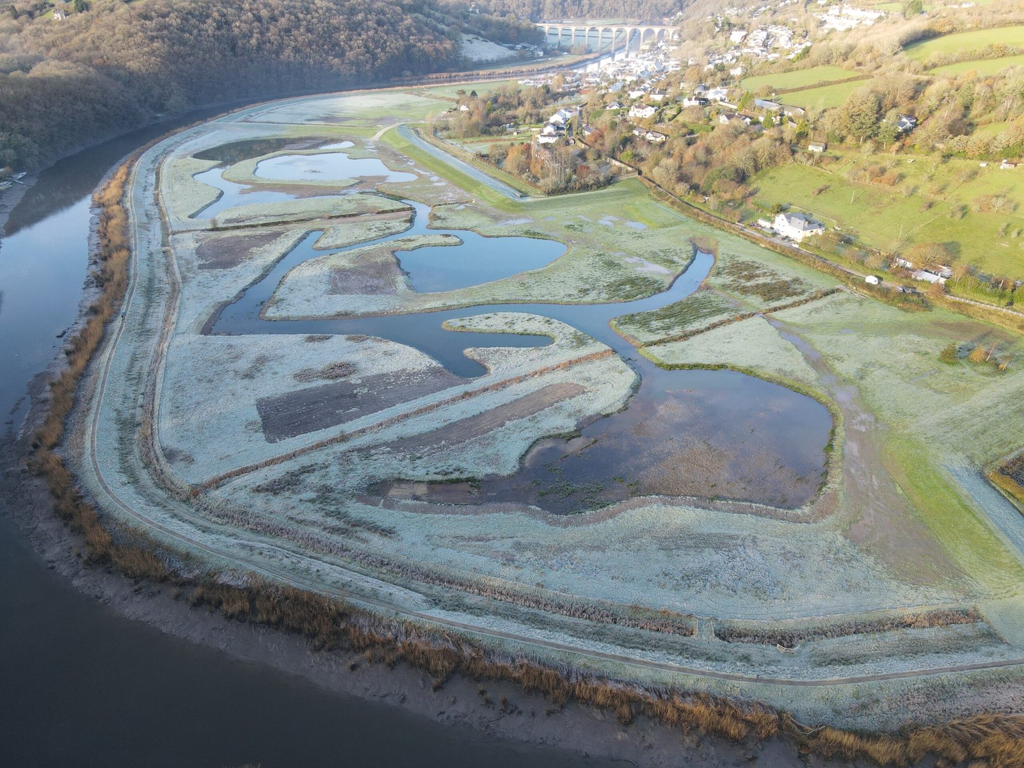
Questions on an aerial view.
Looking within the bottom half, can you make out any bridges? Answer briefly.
No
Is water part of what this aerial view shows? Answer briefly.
Yes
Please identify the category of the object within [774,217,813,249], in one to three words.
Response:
house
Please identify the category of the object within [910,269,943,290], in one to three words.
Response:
shed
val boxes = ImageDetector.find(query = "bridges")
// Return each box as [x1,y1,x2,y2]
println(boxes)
[533,24,687,50]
